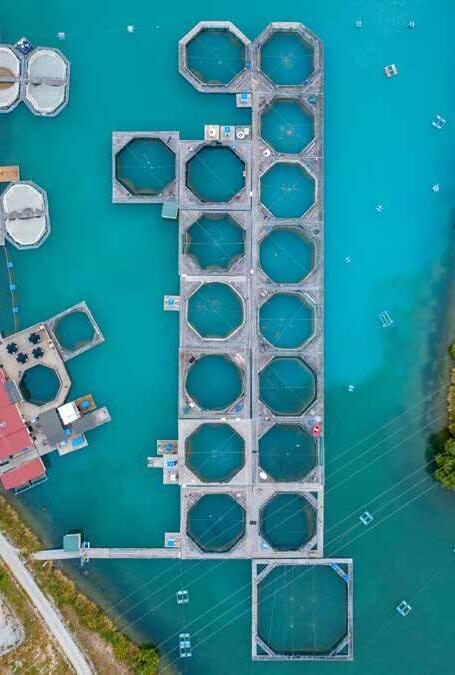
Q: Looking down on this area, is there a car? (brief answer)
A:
No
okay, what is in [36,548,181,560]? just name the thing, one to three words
pier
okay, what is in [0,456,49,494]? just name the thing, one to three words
shed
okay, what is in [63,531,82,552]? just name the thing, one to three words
shed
